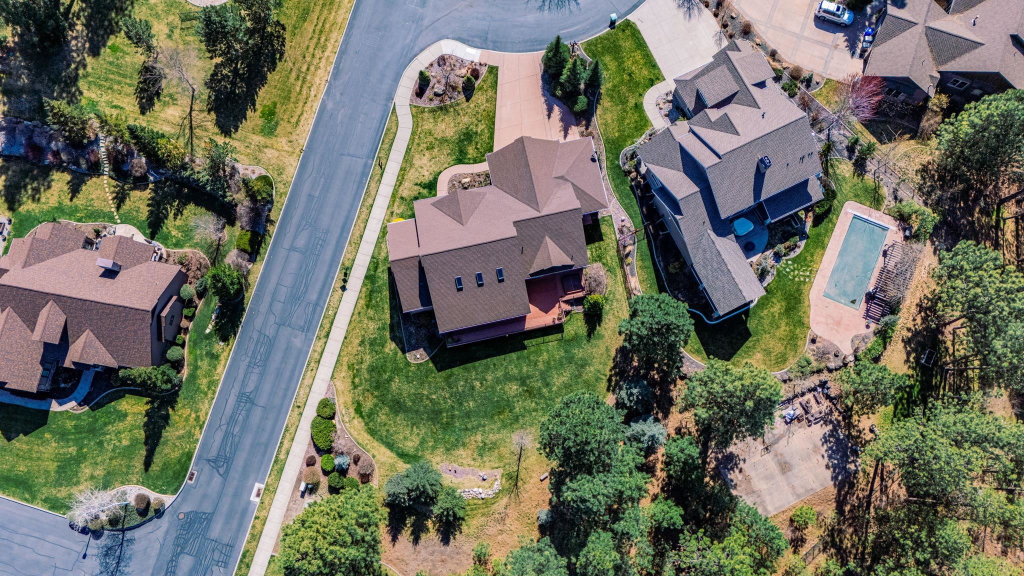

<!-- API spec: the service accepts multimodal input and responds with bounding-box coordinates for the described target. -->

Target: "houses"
[860,0,1024,113]
[0,223,189,393]
[635,39,824,316]
[387,135,609,347]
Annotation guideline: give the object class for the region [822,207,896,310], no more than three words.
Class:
swimming pool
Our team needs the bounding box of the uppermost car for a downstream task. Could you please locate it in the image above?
[817,2,855,26]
